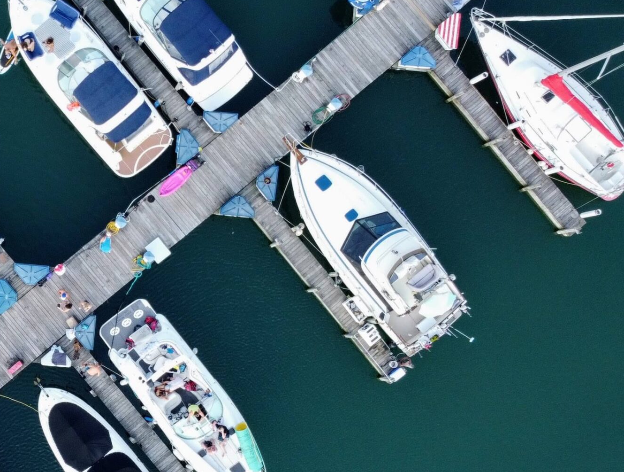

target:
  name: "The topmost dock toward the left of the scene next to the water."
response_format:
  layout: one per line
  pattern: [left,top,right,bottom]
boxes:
[68,0,217,149]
